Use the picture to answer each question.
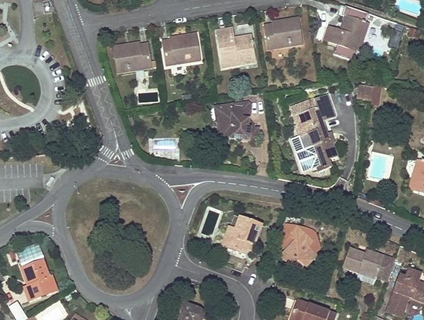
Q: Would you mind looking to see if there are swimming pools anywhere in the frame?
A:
Yes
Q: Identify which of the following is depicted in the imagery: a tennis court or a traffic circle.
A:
traffic circle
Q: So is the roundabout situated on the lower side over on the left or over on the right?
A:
left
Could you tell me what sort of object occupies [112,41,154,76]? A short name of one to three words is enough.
house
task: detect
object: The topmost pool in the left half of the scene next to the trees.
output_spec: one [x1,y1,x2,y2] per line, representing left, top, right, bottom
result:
[138,92,159,104]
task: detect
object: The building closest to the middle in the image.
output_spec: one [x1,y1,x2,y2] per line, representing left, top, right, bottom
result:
[213,100,254,140]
